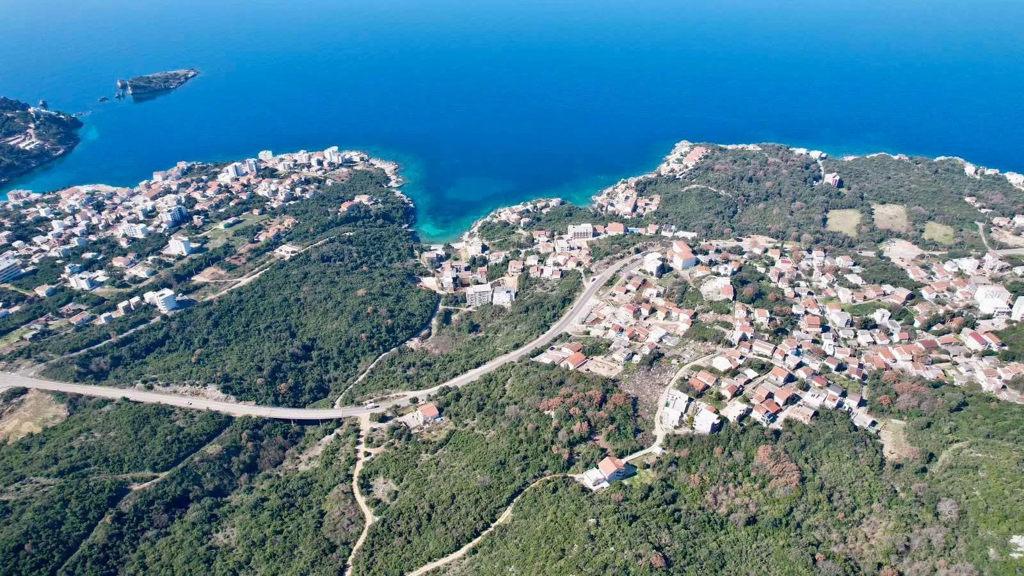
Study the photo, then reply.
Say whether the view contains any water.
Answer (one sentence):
Yes, water shows up in the scene.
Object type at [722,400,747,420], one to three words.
house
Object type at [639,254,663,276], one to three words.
building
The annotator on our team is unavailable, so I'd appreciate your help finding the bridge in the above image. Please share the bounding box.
[223,404,366,433]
